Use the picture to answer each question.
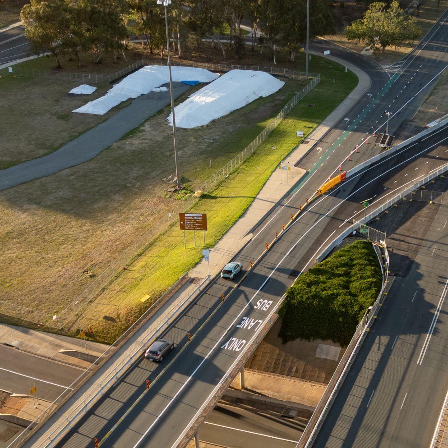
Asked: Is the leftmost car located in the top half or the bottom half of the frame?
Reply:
bottom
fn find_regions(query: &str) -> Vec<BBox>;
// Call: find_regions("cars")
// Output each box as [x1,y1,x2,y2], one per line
[143,337,176,363]
[222,262,245,279]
